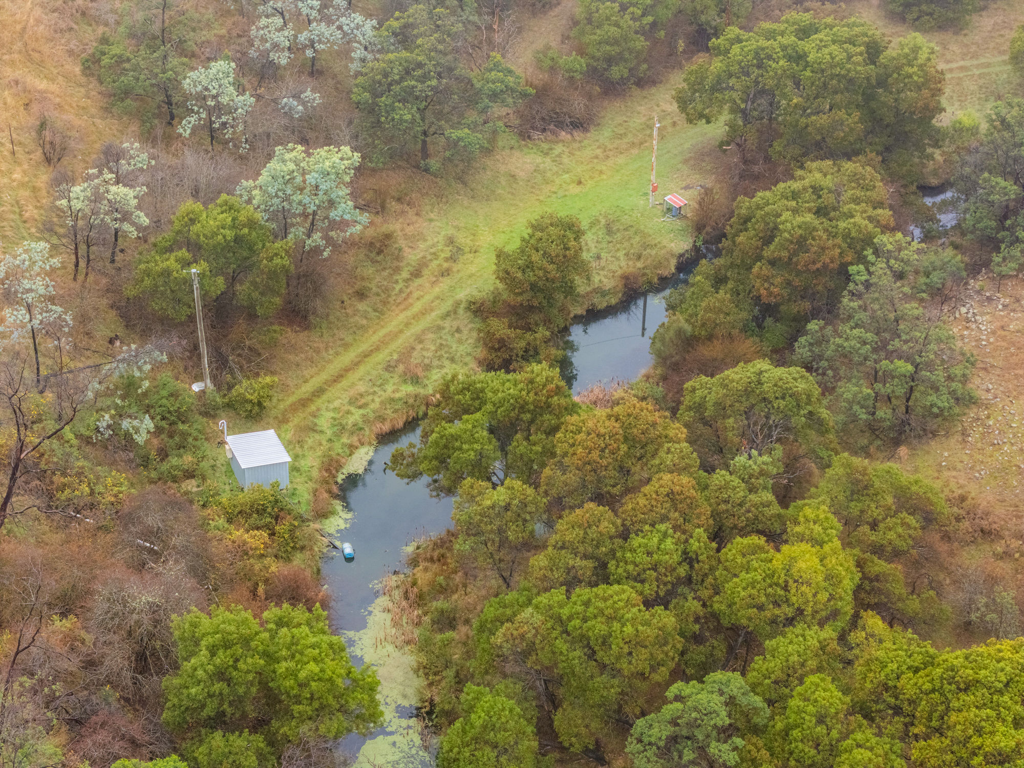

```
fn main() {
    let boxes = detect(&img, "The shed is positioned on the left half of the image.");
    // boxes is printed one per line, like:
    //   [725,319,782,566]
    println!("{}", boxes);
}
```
[220,424,292,488]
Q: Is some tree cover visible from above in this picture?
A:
Yes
